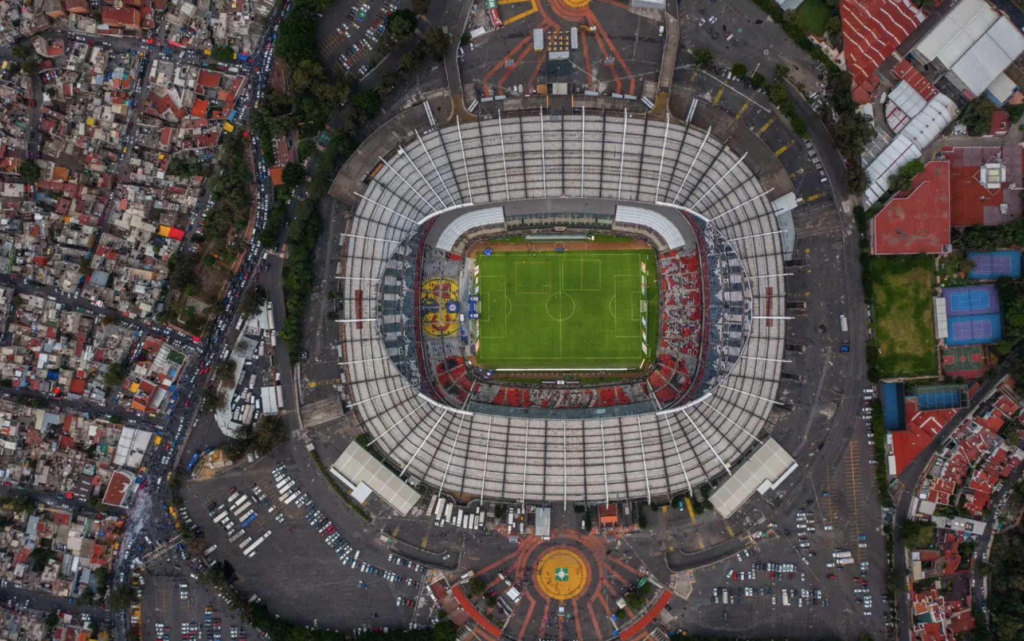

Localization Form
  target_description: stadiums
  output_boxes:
[330,92,795,511]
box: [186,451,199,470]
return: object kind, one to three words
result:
vehicle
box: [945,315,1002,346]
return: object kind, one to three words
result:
tennis court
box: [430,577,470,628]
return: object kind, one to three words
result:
building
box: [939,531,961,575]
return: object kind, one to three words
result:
house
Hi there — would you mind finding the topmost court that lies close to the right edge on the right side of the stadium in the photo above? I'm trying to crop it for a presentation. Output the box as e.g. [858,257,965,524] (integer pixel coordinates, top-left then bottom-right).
[967,251,1021,279]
